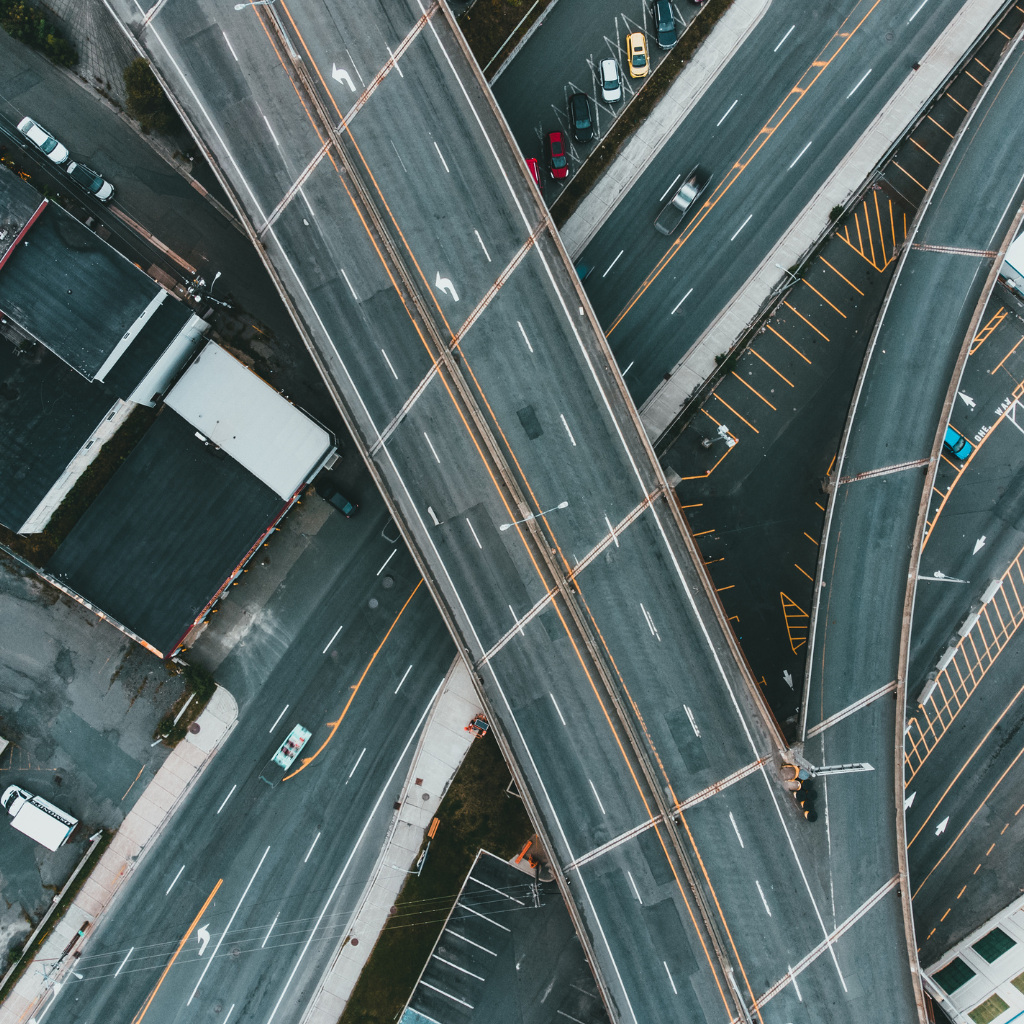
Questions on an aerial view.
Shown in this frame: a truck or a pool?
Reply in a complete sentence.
The one in the frame is a truck.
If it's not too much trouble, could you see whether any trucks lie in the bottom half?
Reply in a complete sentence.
Yes, a truck shows up in the bottom half.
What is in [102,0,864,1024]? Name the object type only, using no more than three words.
overpass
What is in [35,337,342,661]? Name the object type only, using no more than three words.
building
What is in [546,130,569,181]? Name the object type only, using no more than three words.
car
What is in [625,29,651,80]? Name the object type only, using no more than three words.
car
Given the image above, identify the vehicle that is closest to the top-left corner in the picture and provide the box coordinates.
[15,115,70,167]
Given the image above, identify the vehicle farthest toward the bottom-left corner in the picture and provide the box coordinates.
[2,783,84,851]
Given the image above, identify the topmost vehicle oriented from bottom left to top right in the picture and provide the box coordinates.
[655,164,711,236]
